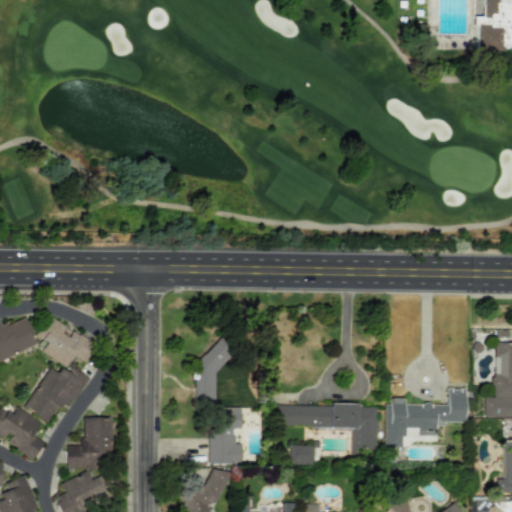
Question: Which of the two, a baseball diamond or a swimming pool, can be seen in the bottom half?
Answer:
swimming pool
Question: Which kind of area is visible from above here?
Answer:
golf course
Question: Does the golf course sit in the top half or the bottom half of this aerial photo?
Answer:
top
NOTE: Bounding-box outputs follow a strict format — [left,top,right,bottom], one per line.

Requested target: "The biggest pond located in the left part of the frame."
[40,80,246,180]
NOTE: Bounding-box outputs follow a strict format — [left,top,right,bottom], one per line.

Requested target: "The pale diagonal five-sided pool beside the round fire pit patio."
[422,483,447,502]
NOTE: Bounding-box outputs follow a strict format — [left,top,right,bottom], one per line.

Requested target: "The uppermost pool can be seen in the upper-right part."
[439,0,467,35]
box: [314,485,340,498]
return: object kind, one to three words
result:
swimming pool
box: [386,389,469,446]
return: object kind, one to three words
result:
house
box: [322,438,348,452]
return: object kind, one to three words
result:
swimming pool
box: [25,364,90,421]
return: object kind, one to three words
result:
house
